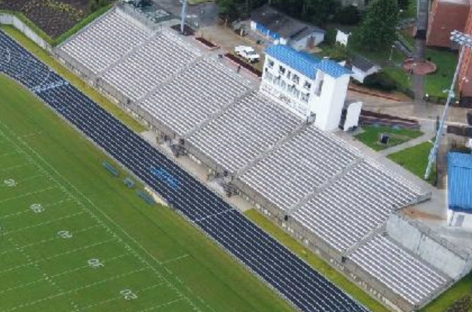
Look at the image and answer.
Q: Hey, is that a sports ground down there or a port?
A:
sports ground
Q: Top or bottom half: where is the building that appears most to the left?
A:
top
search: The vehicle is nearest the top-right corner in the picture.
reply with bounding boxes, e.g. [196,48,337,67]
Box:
[234,44,261,59]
